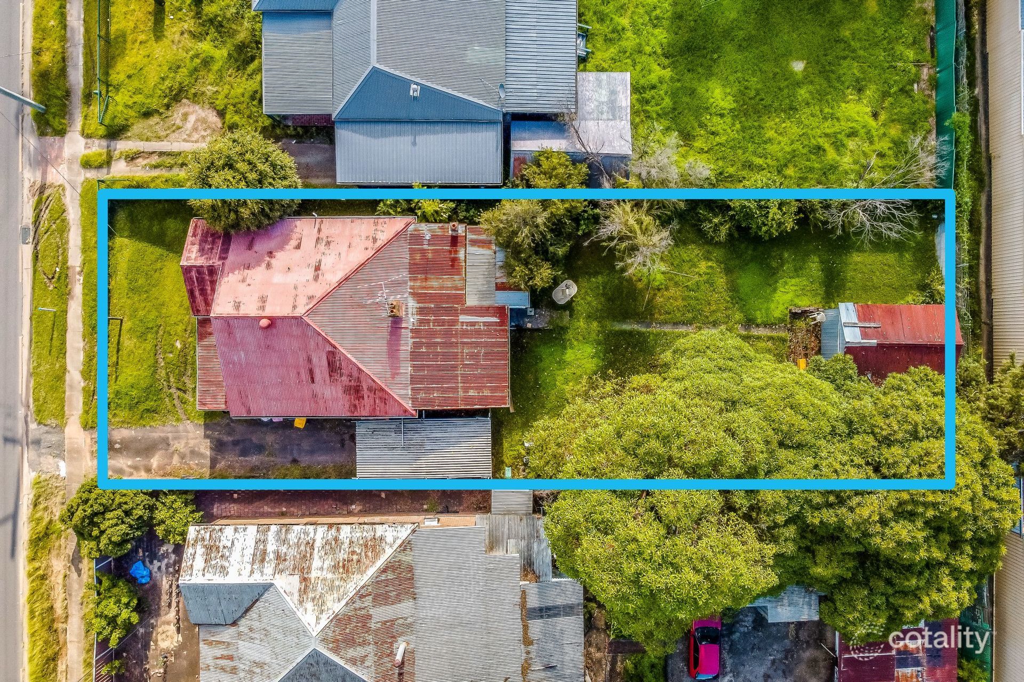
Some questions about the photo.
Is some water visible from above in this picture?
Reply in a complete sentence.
No, there's no water in this view.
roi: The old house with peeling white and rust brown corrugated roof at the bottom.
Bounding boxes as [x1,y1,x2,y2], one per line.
[178,523,523,682]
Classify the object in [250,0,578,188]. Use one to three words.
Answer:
house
